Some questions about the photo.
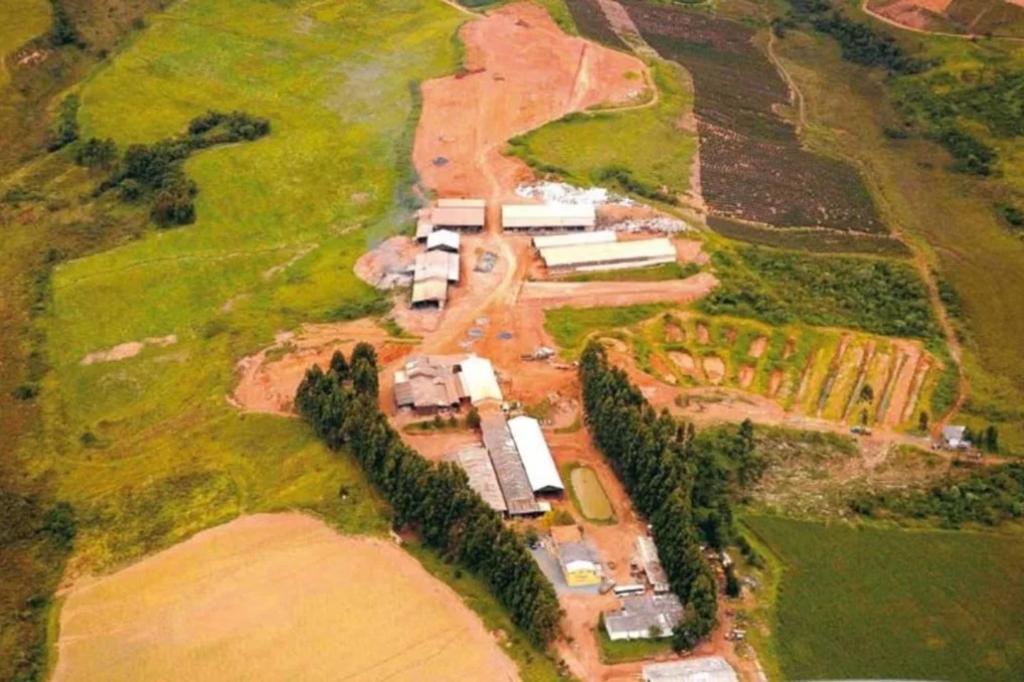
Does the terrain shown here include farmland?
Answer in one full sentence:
Yes, farmland can be seen from above here.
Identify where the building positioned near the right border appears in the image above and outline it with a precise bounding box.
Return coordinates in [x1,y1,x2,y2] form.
[940,426,973,451]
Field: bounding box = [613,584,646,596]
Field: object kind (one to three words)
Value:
vehicle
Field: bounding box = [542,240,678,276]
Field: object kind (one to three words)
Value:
barn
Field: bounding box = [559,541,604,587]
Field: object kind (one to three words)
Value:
building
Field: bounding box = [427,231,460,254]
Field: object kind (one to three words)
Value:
shed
